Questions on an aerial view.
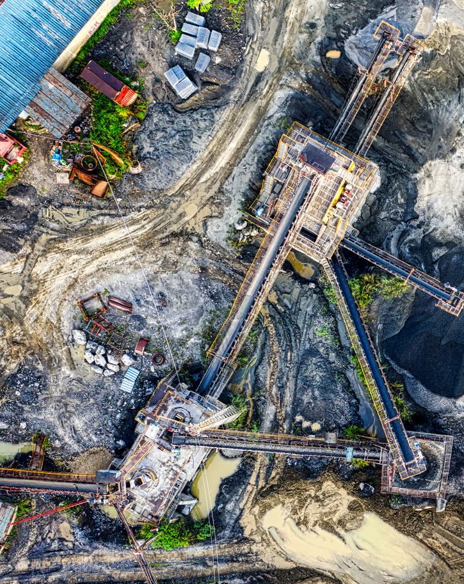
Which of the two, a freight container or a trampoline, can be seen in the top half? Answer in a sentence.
Looking in the top half, you will find a freight container.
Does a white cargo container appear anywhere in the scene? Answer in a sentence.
No, I can't see a single white cargo container in this photo.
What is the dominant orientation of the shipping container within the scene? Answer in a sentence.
The shipping container runs diagonally in the image.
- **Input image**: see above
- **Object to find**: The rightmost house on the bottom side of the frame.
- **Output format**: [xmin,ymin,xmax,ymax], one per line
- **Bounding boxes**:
[122,368,231,528]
